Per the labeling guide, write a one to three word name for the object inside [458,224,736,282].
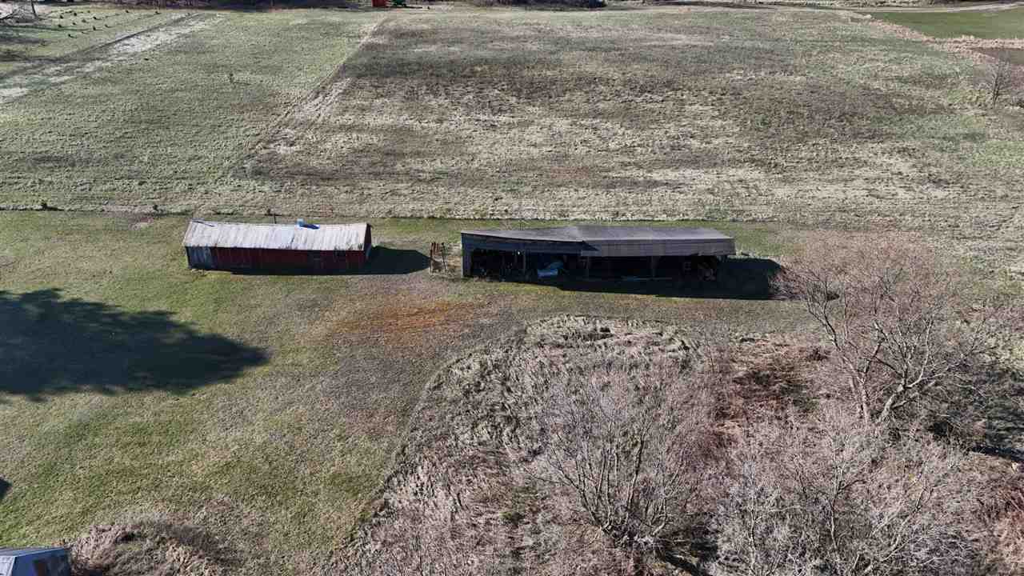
shed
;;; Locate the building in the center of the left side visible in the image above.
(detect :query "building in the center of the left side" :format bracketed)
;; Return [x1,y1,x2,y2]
[178,204,378,271]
